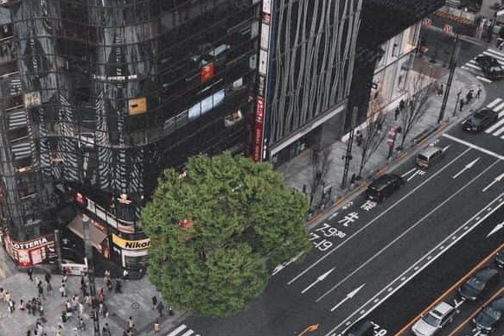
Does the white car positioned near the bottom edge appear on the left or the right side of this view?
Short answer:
right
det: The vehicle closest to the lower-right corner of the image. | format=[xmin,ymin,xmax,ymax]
[464,295,504,336]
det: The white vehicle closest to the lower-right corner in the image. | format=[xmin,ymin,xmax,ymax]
[409,301,458,336]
